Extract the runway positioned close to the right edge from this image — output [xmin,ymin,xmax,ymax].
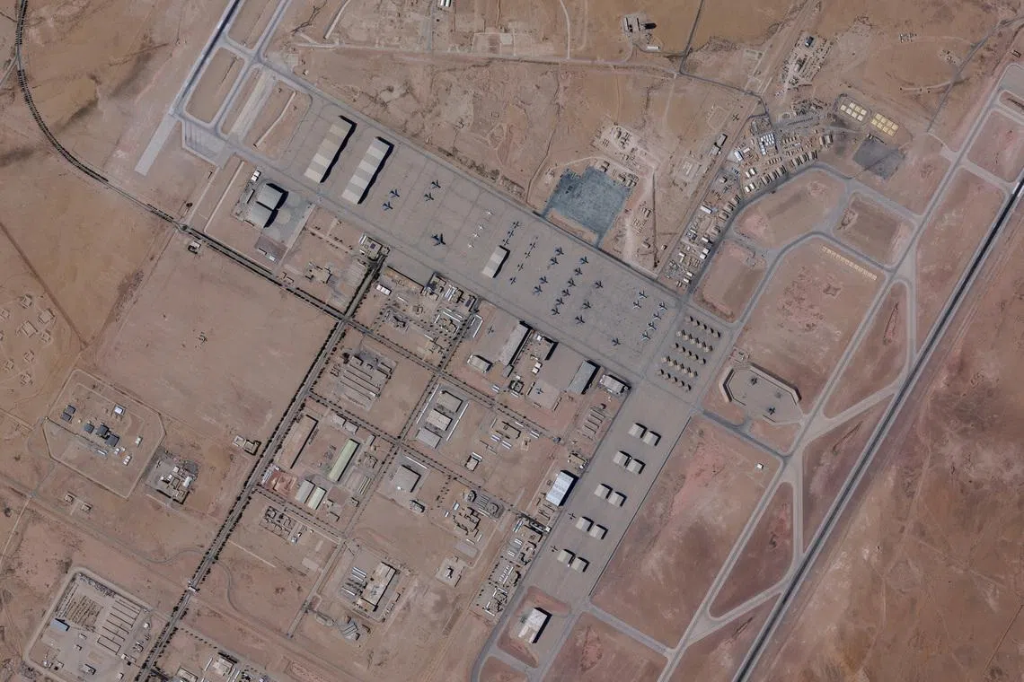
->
[730,167,1024,682]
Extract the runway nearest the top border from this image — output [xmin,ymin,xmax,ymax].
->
[166,0,241,118]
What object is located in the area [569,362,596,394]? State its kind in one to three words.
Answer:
hangar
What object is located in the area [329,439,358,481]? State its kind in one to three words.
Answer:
building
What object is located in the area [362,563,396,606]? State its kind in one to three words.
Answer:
building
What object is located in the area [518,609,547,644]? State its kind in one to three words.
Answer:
hangar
